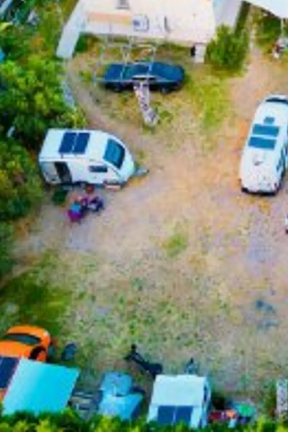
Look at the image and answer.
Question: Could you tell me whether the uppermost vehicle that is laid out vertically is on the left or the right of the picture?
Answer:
right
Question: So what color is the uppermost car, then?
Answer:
blue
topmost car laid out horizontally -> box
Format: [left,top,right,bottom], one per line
[101,62,187,98]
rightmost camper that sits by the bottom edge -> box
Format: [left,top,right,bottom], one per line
[150,371,219,432]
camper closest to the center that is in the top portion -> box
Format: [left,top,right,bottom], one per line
[40,129,154,184]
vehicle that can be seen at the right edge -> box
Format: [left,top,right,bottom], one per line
[242,97,288,191]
